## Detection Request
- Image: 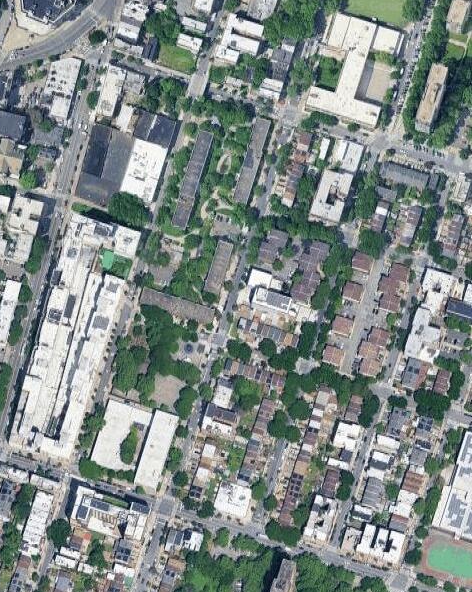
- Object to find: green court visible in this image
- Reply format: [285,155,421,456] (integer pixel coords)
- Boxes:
[102,250,133,277]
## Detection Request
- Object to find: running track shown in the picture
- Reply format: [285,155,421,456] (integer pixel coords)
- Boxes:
[418,529,472,589]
